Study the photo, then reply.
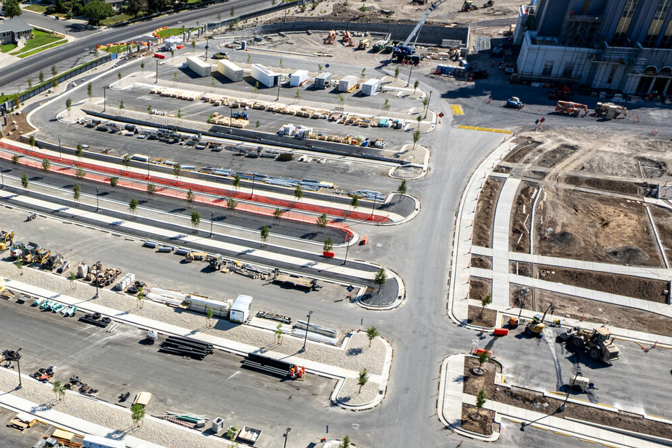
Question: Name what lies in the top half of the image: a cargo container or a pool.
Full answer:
What appears in the top half of the image is a cargo container.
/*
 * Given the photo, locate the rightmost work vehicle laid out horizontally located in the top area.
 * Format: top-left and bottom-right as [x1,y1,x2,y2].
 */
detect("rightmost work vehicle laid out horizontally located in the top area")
[594,99,630,118]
